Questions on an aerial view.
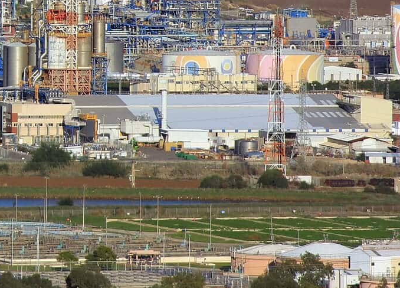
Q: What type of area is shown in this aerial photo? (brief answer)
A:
industrial area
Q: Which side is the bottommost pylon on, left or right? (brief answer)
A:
right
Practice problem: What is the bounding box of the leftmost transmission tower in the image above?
[292,84,314,158]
